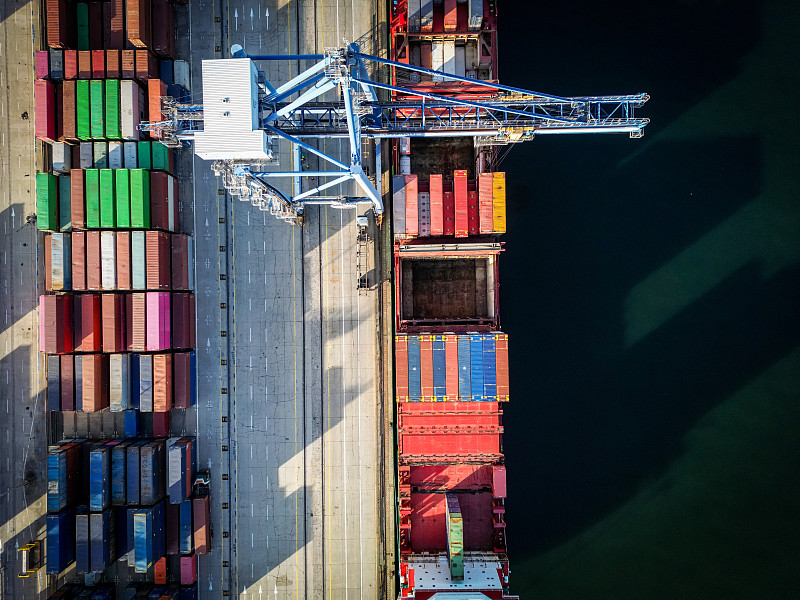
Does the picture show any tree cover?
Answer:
No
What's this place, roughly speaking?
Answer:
port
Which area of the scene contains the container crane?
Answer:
top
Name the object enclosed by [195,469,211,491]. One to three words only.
vehicle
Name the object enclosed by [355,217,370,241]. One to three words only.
vehicle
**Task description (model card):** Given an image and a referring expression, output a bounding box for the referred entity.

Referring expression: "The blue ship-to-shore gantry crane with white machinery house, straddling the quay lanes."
[132,31,661,233]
